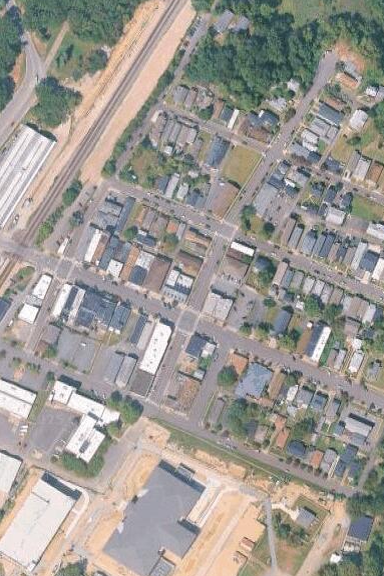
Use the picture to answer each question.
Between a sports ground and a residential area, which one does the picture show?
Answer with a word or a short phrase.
residential area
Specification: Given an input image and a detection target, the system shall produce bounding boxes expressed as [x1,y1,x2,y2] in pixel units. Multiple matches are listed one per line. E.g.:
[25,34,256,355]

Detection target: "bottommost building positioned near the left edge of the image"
[0,477,78,570]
